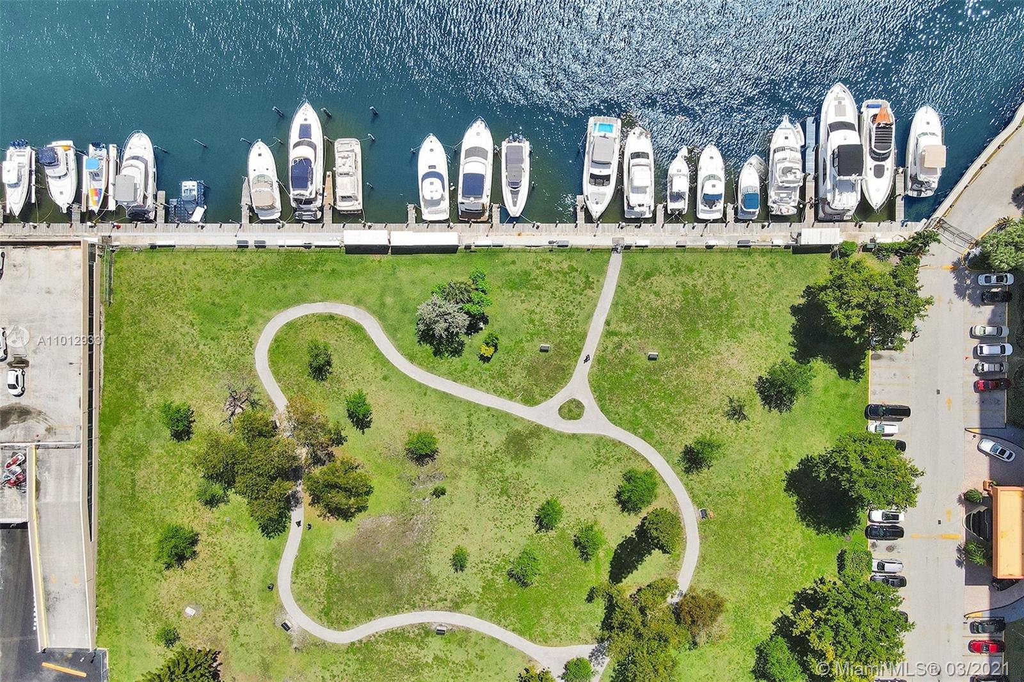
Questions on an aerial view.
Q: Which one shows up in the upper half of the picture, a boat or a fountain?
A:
boat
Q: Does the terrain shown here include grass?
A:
Yes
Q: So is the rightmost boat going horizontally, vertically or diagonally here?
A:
vertically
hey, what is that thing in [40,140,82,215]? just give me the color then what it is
white boat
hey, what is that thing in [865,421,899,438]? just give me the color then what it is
white car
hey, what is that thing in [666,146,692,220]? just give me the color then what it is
white boat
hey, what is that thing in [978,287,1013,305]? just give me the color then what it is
black car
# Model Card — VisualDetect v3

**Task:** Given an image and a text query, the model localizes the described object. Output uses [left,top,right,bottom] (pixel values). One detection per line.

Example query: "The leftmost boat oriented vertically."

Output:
[1,139,36,220]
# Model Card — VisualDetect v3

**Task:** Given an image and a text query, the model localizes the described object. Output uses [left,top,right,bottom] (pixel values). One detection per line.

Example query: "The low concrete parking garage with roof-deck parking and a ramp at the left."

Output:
[0,238,102,651]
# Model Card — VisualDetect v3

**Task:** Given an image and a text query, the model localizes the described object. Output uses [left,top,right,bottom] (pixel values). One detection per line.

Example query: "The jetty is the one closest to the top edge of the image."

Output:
[800,115,819,168]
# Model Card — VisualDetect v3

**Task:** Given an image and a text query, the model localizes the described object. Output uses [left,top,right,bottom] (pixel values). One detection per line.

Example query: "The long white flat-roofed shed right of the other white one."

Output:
[391,232,459,248]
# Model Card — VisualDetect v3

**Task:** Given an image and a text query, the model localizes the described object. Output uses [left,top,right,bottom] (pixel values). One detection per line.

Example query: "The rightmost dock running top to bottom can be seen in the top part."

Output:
[888,167,907,223]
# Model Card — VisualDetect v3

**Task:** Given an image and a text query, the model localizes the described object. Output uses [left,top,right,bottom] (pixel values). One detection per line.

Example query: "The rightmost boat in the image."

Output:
[902,102,951,202]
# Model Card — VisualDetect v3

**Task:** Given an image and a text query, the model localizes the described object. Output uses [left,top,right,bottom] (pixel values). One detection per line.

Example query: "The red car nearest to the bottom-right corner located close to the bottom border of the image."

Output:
[966,637,1005,656]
